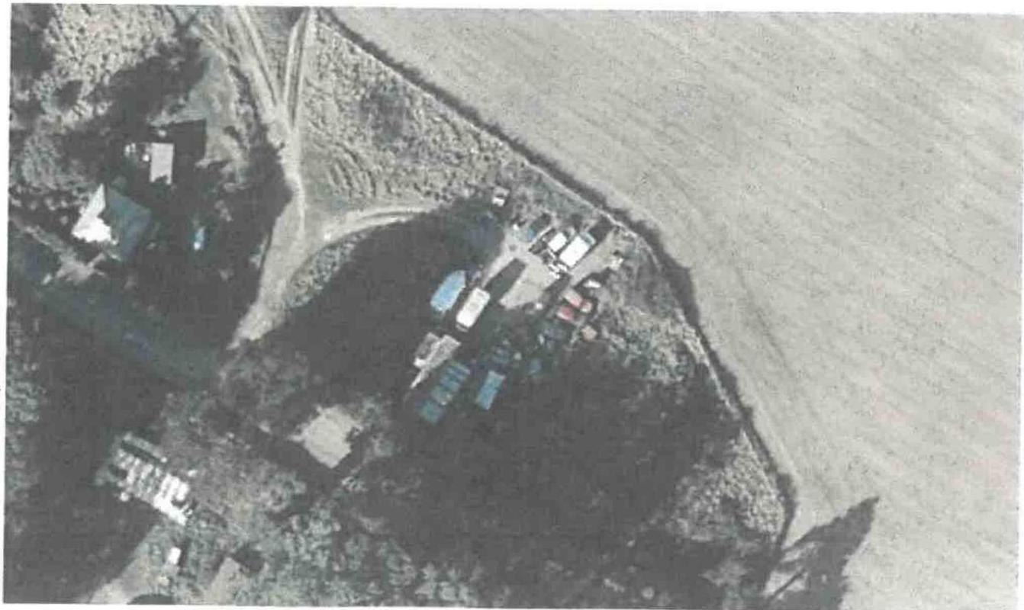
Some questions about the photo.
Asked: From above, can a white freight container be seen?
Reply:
No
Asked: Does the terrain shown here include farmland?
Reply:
Yes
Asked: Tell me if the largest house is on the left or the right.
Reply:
left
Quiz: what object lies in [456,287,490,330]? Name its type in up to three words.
camper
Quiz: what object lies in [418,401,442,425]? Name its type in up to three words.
shed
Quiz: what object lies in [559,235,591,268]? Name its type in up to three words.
building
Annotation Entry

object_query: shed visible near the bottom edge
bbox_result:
[199,560,239,607]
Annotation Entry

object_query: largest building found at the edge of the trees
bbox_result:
[69,181,150,262]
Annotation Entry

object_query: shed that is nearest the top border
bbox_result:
[148,140,174,184]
